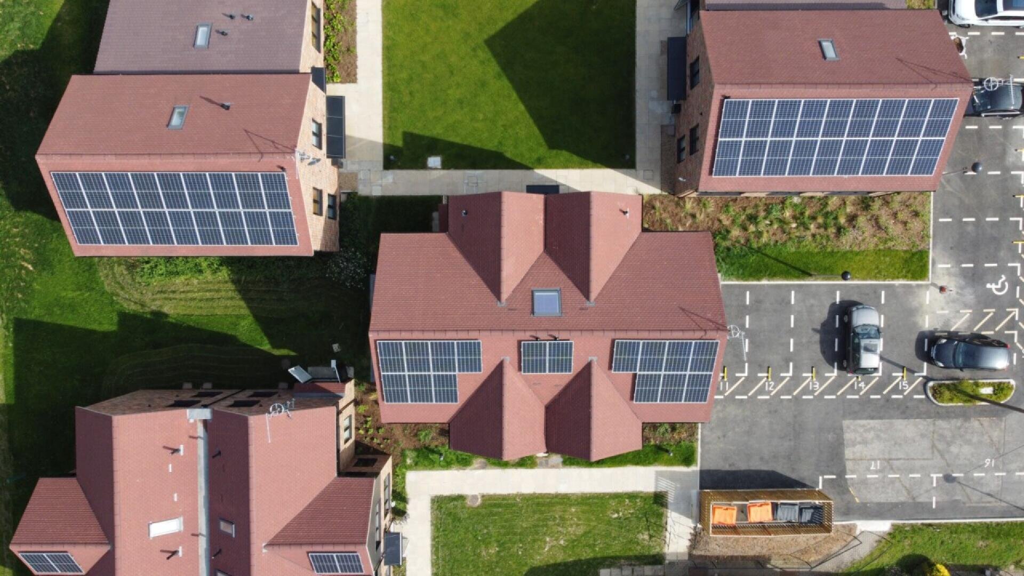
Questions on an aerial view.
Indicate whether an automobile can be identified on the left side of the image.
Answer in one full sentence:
No, I can find no automobile on the left side of the image.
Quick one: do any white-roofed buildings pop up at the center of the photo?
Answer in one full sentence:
No, no white-roofed building can be made out at the center of the photo.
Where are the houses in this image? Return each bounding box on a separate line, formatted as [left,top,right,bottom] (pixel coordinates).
[35,71,345,258]
[369,185,751,462]
[10,364,401,576]
[666,8,1015,197]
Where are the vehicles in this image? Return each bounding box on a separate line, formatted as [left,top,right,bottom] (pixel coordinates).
[839,305,882,377]
[967,83,1024,121]
[925,336,1012,375]
[943,0,1024,31]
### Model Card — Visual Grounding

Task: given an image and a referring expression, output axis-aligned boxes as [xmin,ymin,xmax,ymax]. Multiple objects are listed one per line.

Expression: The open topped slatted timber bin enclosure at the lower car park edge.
[699,489,835,535]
